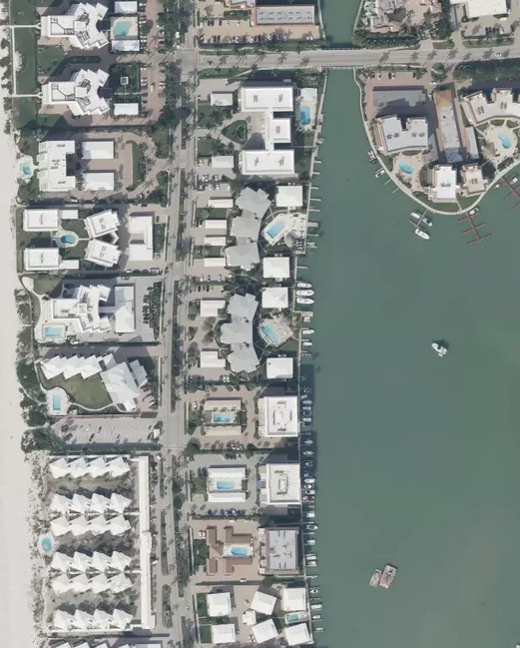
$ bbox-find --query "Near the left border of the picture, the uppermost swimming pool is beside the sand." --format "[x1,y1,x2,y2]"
[15,152,34,183]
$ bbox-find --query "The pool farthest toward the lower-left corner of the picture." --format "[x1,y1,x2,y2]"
[37,533,55,554]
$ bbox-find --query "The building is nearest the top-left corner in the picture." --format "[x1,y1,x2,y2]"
[45,2,109,53]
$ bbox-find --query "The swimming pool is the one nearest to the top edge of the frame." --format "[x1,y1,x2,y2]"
[111,14,138,36]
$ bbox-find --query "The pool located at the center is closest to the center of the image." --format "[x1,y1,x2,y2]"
[260,315,294,347]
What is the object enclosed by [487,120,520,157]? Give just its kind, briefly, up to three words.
swimming pool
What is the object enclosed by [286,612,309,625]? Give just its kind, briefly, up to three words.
swimming pool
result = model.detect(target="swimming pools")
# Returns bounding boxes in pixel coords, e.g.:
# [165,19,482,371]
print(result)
[111,14,138,36]
[487,120,520,157]
[208,478,245,492]
[37,533,55,554]
[394,154,423,195]
[54,230,78,250]
[43,389,70,416]
[261,213,307,253]
[34,293,68,342]
[286,612,309,625]
[15,152,34,183]
[299,97,316,131]
[260,315,294,347]
[224,545,253,557]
